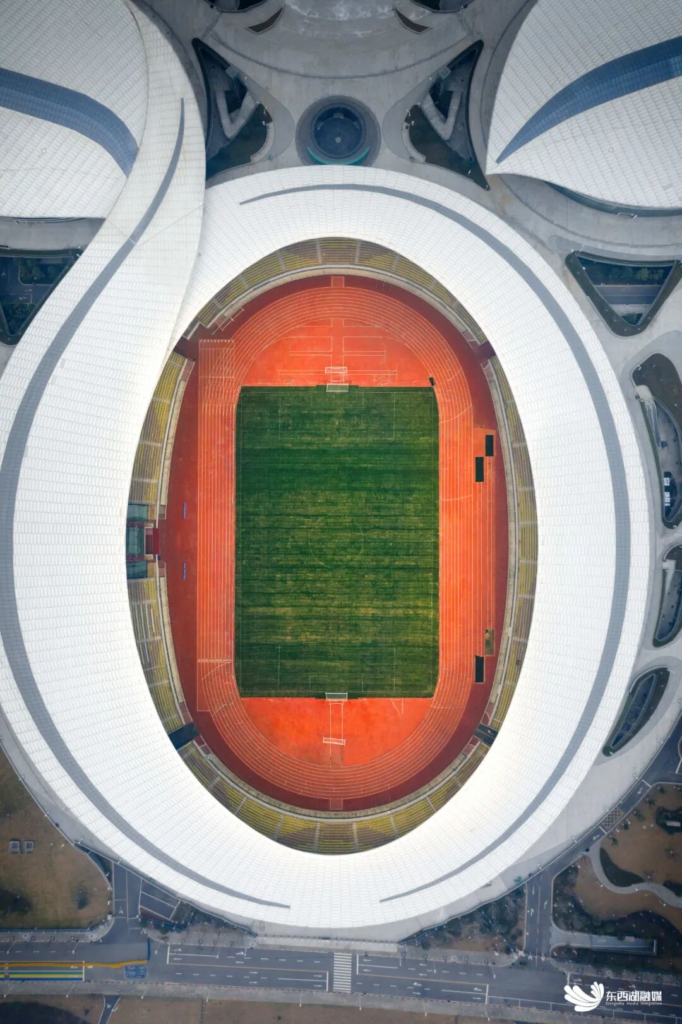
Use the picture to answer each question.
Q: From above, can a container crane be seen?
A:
No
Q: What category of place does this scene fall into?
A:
sports ground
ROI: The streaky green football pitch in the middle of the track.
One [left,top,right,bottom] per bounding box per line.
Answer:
[236,384,439,699]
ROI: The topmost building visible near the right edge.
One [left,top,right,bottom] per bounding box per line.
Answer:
[486,0,682,217]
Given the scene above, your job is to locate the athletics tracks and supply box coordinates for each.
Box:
[128,267,517,817]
